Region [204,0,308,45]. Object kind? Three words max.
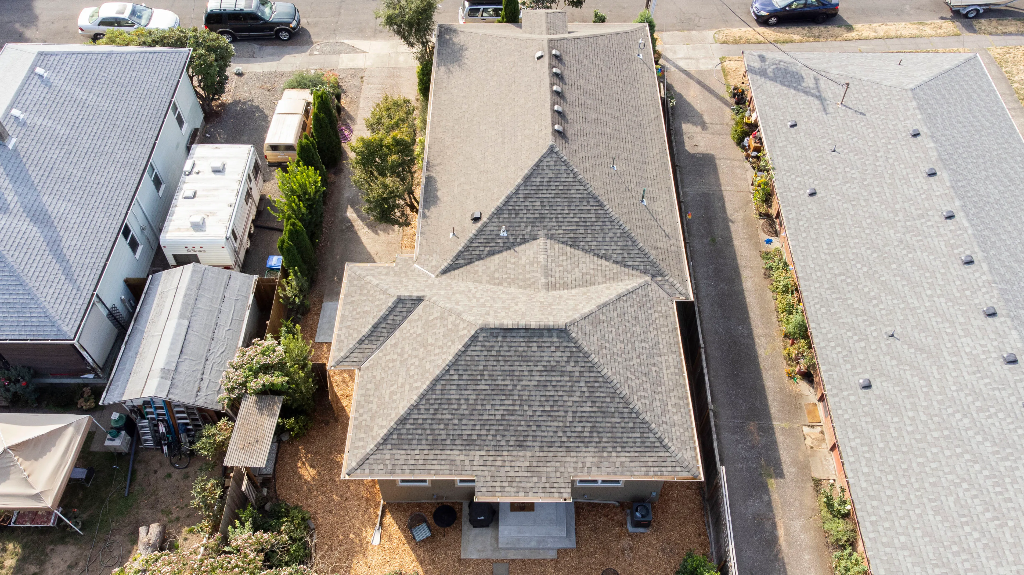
car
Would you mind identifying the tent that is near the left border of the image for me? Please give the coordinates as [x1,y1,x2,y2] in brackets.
[0,414,105,538]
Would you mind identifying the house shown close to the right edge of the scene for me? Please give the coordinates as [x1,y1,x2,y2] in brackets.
[739,49,1024,575]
